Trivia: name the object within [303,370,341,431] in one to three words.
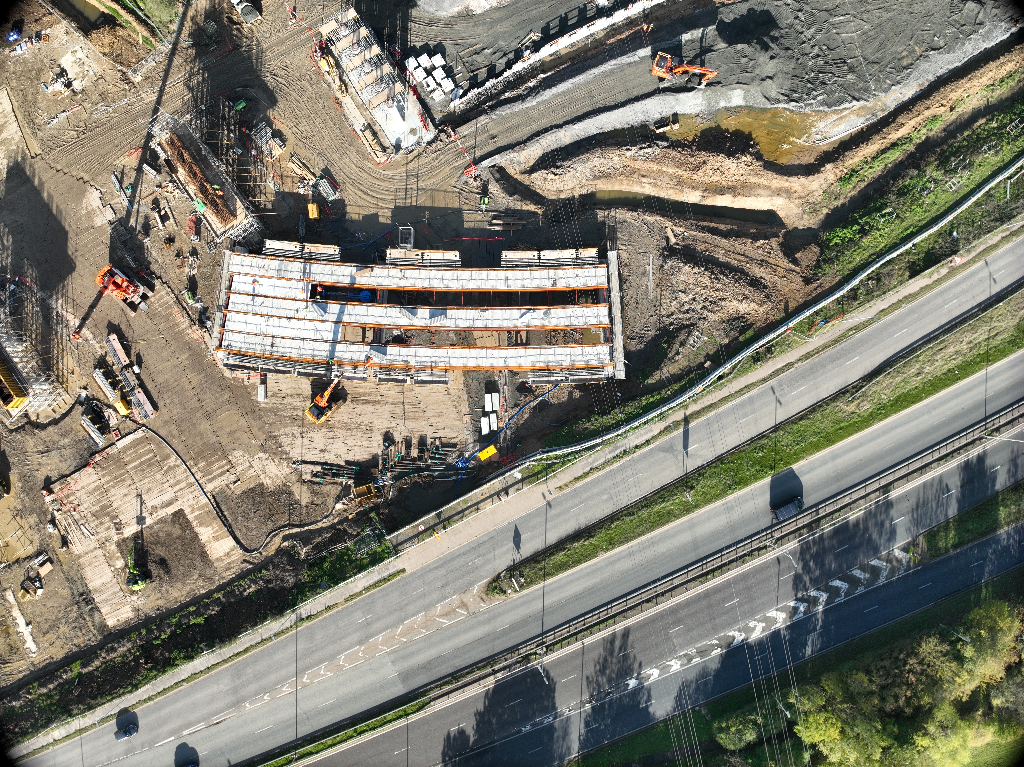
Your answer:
work vehicle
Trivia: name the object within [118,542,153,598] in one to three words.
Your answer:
work vehicle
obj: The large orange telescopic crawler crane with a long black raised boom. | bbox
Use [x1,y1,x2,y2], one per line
[72,258,160,347]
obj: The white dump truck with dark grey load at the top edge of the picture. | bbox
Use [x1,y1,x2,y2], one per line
[224,0,267,33]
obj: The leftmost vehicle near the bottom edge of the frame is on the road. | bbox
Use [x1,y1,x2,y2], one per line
[111,721,143,745]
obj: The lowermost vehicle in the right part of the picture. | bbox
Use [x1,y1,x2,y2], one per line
[768,496,806,521]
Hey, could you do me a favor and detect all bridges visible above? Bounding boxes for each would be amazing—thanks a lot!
[214,249,614,372]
